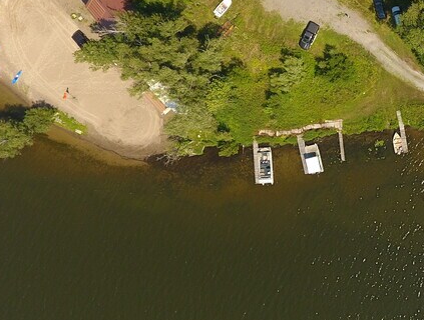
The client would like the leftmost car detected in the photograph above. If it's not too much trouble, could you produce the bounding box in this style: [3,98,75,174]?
[67,28,92,50]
